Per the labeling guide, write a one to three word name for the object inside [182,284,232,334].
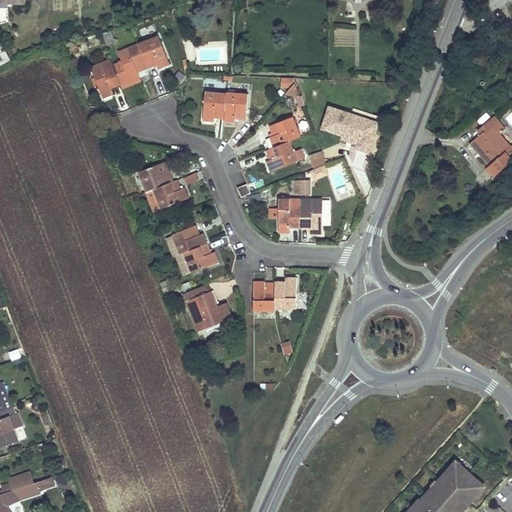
house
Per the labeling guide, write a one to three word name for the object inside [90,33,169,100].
house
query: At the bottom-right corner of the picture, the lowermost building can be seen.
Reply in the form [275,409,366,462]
[411,461,486,512]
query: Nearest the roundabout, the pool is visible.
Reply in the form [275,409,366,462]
[326,162,356,202]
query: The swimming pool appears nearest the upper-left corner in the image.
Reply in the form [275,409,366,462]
[195,41,228,65]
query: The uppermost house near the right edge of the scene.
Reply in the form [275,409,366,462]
[470,110,512,176]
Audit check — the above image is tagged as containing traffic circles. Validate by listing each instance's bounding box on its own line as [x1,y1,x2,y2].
[340,278,450,390]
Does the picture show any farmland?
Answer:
Yes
